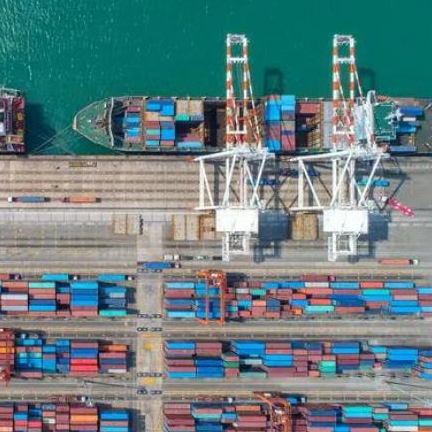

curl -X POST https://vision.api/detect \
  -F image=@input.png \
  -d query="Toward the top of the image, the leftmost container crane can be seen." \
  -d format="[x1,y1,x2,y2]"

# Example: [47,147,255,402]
[186,33,265,263]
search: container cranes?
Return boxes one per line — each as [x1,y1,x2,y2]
[279,33,378,263]
[189,263,225,328]
[249,385,289,432]
[0,326,19,391]
[186,33,265,263]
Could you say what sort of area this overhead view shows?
port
